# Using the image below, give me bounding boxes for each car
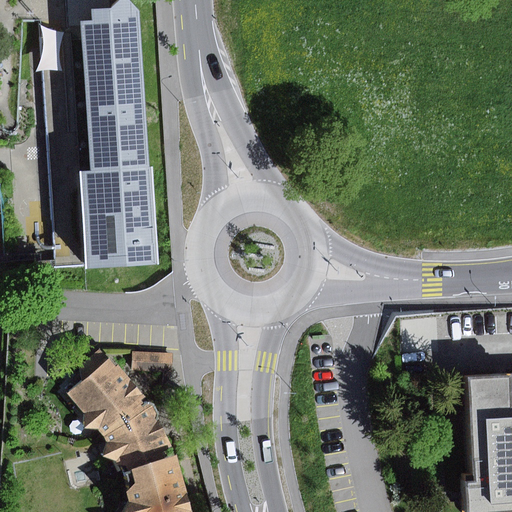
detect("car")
[315,382,338,392]
[507,313,512,334]
[208,54,222,79]
[433,267,454,277]
[474,314,484,336]
[450,317,462,342]
[226,440,238,464]
[402,352,426,363]
[404,363,425,373]
[462,314,473,336]
[312,357,334,367]
[313,370,333,380]
[320,430,342,441]
[322,442,344,453]
[485,314,496,334]
[326,466,346,476]
[317,393,338,404]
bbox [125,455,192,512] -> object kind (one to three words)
house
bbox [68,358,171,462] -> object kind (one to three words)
house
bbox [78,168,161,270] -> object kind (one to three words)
building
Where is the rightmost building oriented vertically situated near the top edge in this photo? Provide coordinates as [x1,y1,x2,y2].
[80,0,150,170]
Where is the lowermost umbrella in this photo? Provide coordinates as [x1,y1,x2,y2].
[69,420,83,434]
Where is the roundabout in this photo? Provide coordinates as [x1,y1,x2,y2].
[186,180,330,328]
